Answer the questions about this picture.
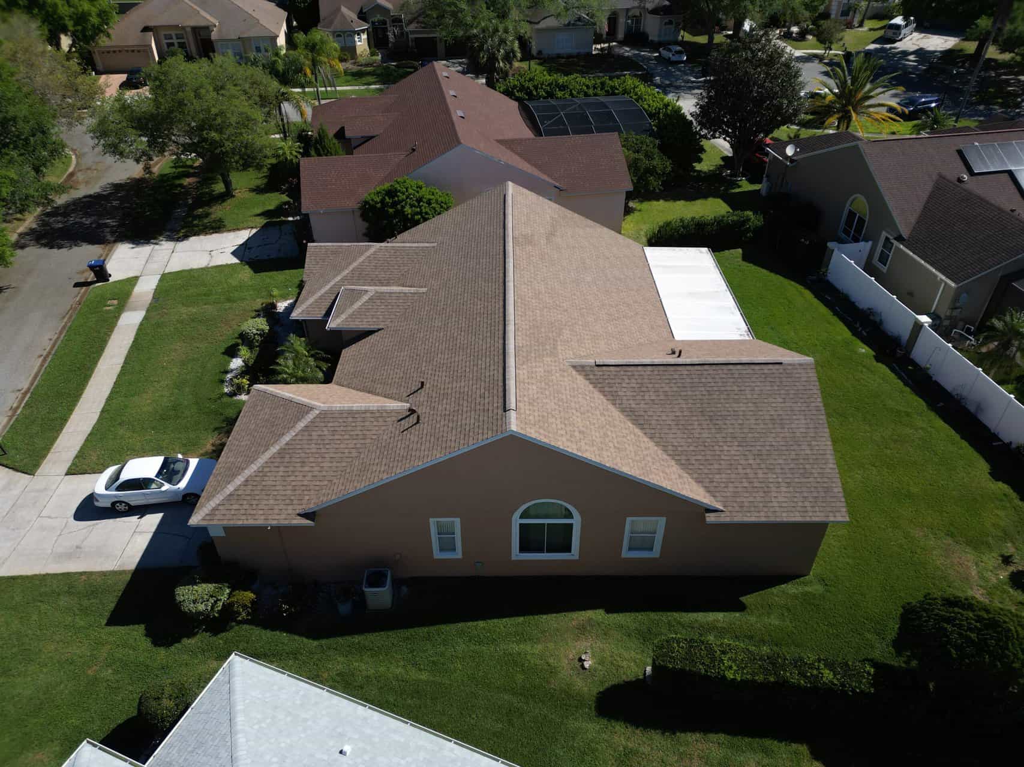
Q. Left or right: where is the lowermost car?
left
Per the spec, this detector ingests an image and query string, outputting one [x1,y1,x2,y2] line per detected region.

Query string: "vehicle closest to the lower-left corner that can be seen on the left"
[89,446,222,507]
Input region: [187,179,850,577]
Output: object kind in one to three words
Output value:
house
